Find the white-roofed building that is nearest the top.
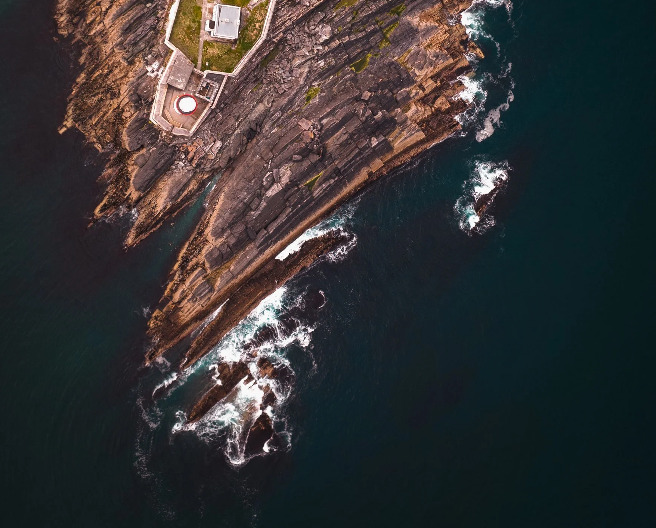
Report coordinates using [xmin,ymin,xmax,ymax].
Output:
[204,3,241,41]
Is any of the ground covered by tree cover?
No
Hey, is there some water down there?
Yes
